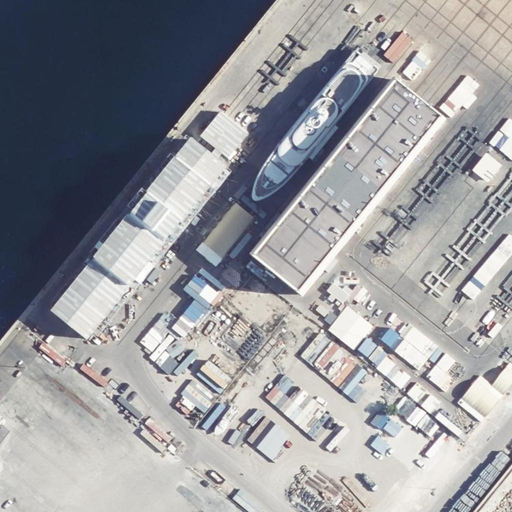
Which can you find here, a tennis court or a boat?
boat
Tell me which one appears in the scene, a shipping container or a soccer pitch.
shipping container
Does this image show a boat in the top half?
Yes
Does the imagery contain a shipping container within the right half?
Yes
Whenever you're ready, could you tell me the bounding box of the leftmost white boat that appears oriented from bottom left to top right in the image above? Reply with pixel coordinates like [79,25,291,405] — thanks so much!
[216,408,238,433]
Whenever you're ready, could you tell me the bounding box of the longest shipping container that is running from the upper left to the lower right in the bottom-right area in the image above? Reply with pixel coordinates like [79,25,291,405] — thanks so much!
[434,412,464,438]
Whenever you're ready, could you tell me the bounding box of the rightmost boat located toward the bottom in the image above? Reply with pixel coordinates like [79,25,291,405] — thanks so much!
[329,359,343,374]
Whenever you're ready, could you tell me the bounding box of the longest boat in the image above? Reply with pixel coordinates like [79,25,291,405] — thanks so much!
[252,49,380,200]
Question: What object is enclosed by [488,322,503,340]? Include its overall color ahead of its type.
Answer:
white vehicle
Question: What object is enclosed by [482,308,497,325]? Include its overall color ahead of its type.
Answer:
white vehicle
